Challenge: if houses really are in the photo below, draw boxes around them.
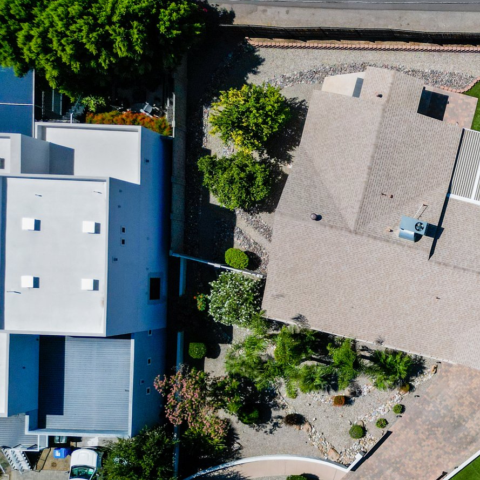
[261,67,480,372]
[0,123,170,452]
